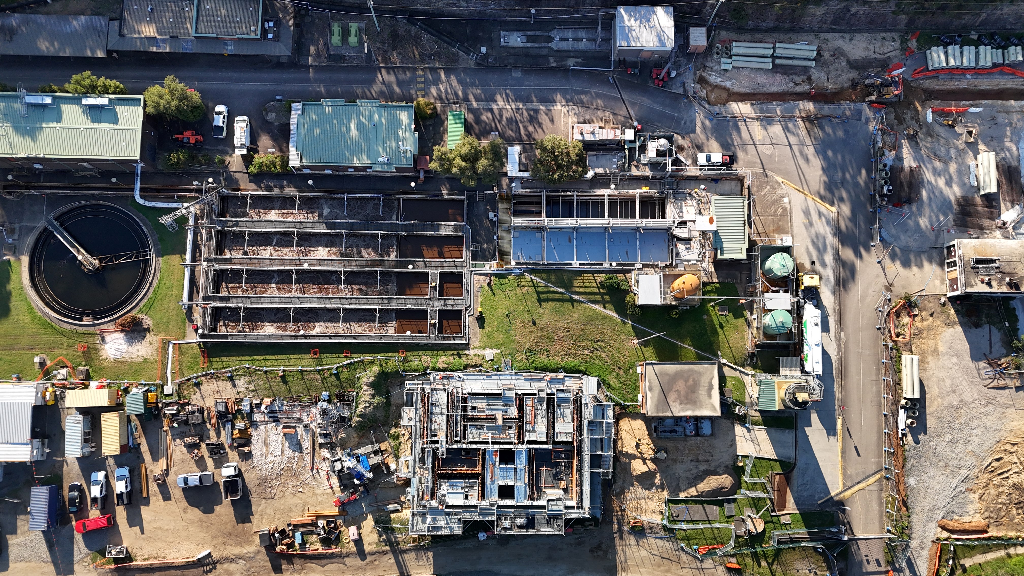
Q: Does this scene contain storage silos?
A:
Yes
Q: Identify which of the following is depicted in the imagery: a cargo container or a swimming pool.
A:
cargo container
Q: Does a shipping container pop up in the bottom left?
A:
Yes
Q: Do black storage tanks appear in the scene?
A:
Yes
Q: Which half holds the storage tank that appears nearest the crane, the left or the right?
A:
left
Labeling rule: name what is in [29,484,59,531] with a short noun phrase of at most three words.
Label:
shipping container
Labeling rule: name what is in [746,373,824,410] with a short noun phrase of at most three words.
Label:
silo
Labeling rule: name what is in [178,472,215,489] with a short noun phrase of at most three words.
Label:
vehicle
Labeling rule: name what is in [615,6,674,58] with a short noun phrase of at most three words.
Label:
shed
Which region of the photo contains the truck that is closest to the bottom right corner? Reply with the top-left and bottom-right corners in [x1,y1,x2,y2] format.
[797,267,822,374]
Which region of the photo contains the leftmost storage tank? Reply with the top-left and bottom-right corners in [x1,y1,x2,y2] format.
[26,200,162,332]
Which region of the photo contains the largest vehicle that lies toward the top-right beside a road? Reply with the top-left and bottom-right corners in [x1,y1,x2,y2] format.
[849,72,903,102]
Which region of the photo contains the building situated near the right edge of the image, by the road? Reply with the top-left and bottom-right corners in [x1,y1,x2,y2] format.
[933,239,1024,299]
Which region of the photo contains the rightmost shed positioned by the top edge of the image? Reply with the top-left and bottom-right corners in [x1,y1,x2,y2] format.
[685,27,706,54]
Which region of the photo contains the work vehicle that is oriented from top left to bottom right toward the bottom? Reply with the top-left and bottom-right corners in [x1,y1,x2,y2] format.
[635,438,666,461]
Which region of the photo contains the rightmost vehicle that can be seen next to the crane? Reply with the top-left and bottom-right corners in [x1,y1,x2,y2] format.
[332,486,365,510]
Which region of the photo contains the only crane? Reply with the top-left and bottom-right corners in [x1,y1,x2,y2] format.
[326,429,388,491]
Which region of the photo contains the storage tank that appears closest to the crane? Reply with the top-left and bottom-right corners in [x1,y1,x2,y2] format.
[199,188,492,343]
